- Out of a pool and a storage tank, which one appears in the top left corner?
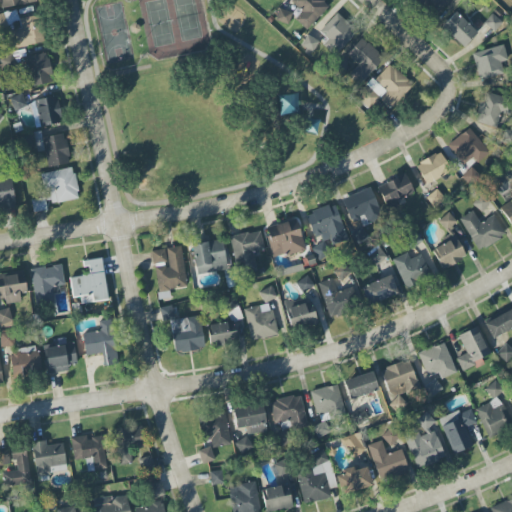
pool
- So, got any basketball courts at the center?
No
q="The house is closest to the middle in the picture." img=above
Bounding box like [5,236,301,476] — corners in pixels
[229,228,265,264]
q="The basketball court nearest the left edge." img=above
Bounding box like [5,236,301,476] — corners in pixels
[96,2,134,63]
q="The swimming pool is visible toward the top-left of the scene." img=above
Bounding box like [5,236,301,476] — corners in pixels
[17,100,37,130]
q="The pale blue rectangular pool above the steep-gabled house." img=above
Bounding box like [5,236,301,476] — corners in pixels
[447,394,469,410]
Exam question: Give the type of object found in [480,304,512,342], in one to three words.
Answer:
house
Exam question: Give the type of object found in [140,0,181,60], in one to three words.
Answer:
tennis court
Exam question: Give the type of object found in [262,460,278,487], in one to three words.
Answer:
swimming pool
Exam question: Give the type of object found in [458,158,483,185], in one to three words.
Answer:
building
